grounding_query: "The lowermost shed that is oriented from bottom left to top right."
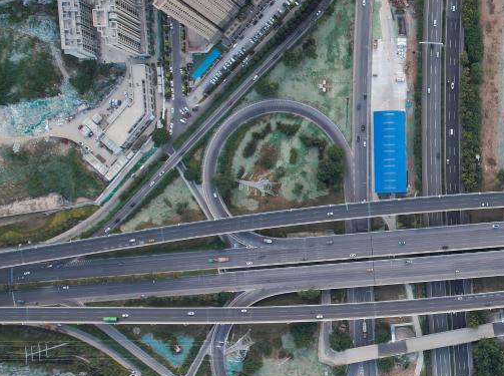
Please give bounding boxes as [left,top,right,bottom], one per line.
[105,142,148,184]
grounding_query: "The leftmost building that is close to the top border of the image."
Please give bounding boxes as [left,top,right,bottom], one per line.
[52,0,110,65]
